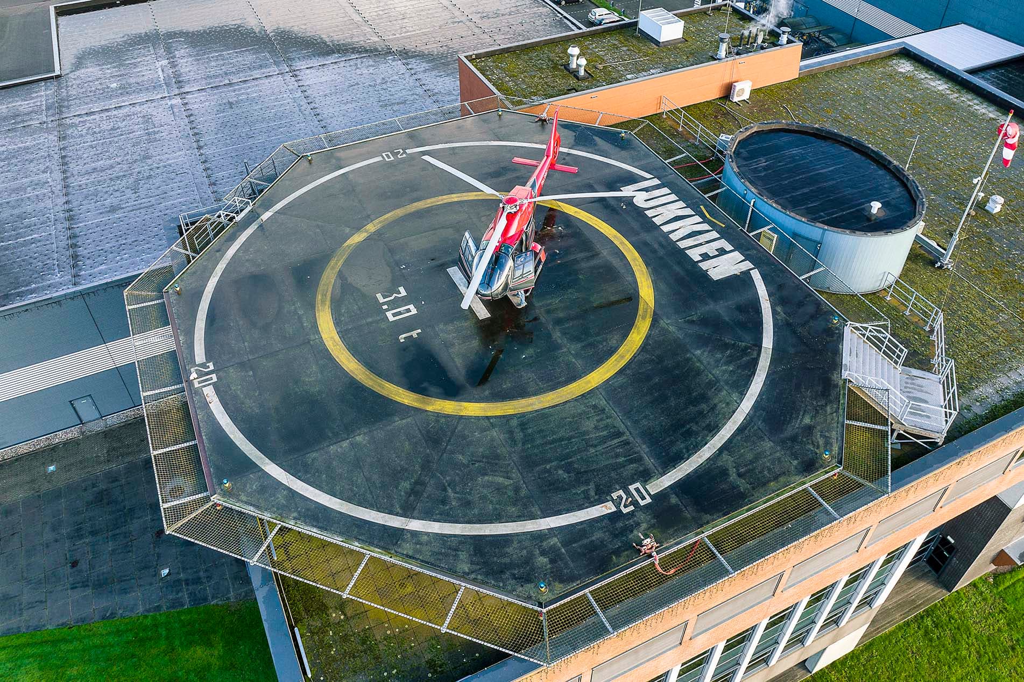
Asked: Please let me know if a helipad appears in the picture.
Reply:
Yes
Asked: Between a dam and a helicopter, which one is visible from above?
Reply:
helicopter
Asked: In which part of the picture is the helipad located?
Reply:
center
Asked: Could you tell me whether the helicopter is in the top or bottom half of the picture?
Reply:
top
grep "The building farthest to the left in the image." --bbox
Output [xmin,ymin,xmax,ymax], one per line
[0,0,584,450]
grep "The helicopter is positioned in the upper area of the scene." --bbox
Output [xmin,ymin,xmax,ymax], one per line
[418,101,645,305]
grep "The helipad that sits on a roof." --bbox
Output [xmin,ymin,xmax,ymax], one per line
[123,95,892,668]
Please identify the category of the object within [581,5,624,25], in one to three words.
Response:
car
